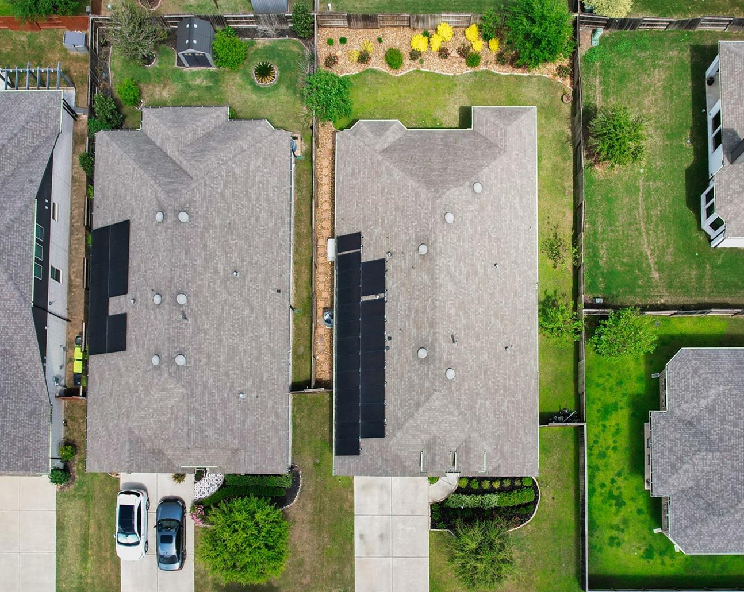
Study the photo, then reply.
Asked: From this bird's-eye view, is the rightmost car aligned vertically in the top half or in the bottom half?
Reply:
bottom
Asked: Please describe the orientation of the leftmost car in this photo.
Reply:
up and down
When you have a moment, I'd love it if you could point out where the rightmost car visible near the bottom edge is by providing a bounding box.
[152,500,186,571]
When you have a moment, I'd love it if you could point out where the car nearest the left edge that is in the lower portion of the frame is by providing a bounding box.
[113,490,149,561]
